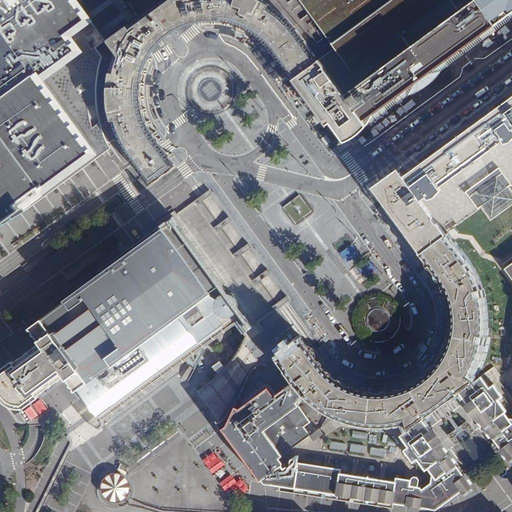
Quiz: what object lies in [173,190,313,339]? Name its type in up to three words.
building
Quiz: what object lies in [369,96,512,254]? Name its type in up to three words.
building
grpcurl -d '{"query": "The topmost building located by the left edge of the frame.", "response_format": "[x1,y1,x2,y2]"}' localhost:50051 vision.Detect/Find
[0,0,96,225]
